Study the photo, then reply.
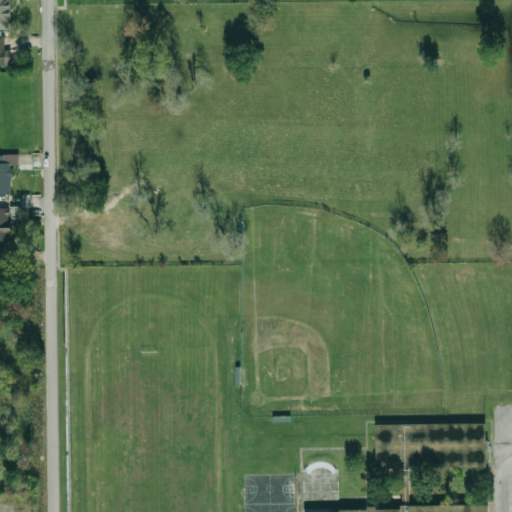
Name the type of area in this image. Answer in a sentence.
This image shows a sports ground.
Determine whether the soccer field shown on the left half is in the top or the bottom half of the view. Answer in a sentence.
The soccer field shown on the left half sits in the bottom half of the picture.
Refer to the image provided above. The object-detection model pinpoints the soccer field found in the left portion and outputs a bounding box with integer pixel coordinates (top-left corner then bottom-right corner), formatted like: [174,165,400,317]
[89,300,215,512]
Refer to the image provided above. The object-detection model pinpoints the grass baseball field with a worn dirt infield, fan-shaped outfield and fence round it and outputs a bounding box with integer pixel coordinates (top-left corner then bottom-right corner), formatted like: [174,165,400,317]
[242,204,444,416]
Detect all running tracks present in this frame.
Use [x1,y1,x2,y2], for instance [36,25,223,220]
[80,292,224,512]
